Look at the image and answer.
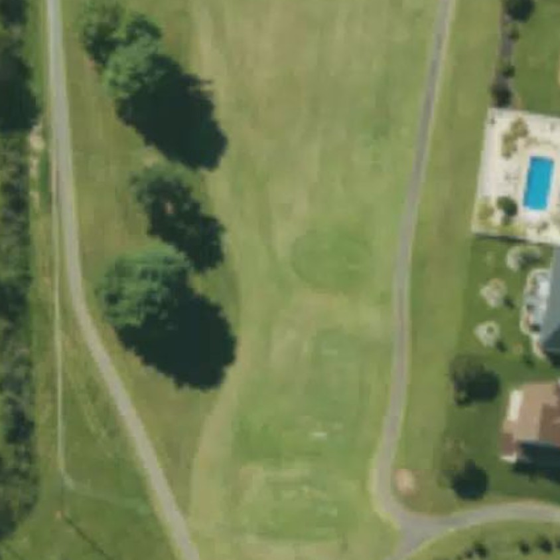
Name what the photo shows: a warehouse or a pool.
pool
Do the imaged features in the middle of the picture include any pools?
No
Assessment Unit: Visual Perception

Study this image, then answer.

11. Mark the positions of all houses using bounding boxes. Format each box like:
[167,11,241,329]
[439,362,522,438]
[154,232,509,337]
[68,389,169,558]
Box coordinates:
[543,248,560,356]
[514,381,560,451]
